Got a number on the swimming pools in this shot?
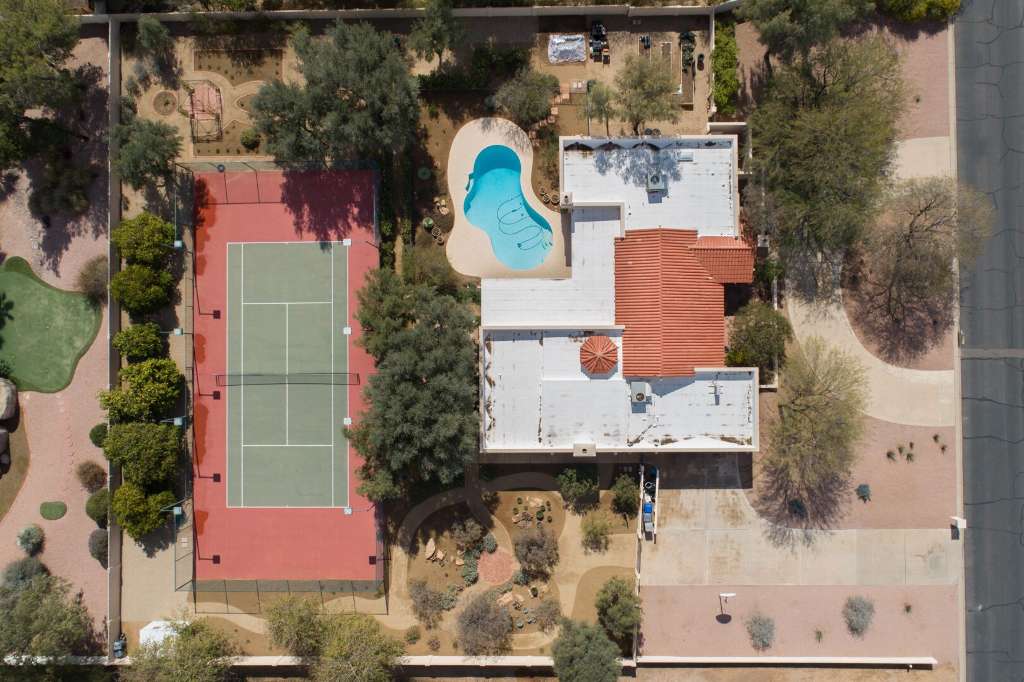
1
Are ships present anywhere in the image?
No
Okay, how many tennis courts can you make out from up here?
1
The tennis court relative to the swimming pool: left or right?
left of it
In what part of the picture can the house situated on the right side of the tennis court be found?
center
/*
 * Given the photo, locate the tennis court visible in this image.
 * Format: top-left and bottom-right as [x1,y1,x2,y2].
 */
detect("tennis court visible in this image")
[193,169,383,580]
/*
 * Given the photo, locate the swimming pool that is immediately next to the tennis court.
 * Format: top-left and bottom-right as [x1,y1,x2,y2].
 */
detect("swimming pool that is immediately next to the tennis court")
[446,117,572,280]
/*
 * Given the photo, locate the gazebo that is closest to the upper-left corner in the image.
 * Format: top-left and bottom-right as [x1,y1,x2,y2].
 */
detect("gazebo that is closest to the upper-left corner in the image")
[178,76,221,119]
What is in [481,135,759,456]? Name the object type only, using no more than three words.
house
